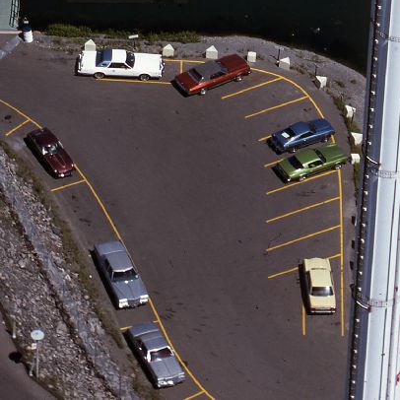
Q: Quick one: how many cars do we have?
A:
eight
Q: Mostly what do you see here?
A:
paved ground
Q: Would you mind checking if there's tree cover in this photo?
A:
No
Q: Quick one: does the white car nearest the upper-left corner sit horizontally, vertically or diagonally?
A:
horizontally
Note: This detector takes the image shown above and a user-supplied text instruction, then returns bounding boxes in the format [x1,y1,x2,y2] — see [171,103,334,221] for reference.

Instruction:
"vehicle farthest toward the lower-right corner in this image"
[304,259,336,314]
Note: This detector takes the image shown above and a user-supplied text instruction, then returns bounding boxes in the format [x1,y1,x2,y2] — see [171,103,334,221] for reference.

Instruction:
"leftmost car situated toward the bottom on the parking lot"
[93,240,146,307]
